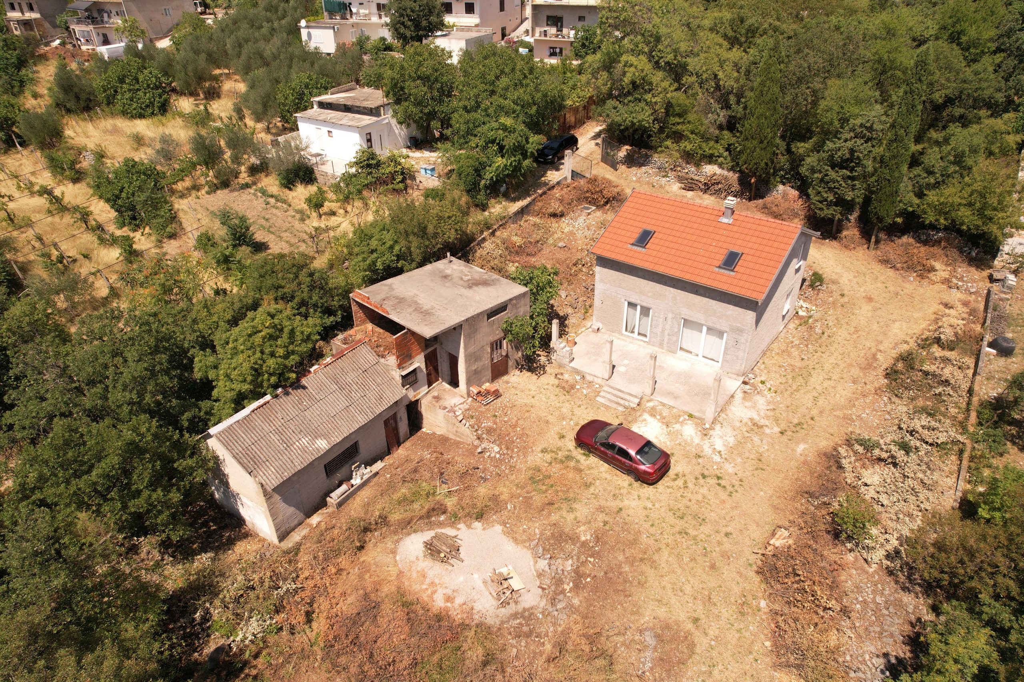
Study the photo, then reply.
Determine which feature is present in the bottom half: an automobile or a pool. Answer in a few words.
automobile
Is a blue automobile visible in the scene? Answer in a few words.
No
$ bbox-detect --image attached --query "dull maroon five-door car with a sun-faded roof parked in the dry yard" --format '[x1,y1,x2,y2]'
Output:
[574,416,676,487]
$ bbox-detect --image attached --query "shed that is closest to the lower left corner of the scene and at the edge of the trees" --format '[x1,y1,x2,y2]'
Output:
[203,338,411,544]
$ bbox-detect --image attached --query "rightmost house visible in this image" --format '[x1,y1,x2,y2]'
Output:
[588,188,822,382]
